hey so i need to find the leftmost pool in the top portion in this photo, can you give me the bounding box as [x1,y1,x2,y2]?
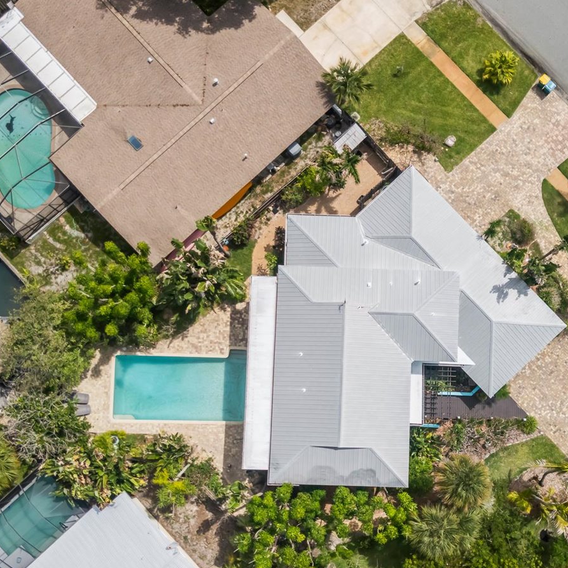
[0,84,59,212]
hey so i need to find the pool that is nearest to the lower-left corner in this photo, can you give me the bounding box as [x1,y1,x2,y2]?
[0,470,92,559]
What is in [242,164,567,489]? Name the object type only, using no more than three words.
house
